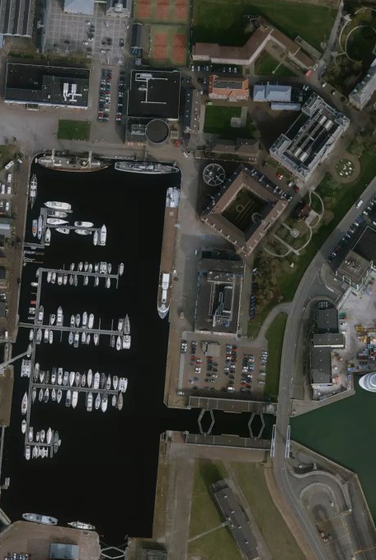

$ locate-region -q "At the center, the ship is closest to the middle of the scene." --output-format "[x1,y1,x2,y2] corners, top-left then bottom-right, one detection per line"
[158,272,172,319]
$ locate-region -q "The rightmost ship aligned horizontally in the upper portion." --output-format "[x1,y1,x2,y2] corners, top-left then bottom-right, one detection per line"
[114,160,179,173]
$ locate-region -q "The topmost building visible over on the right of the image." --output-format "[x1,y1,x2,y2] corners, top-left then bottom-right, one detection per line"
[194,15,320,73]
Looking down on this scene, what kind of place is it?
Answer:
port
